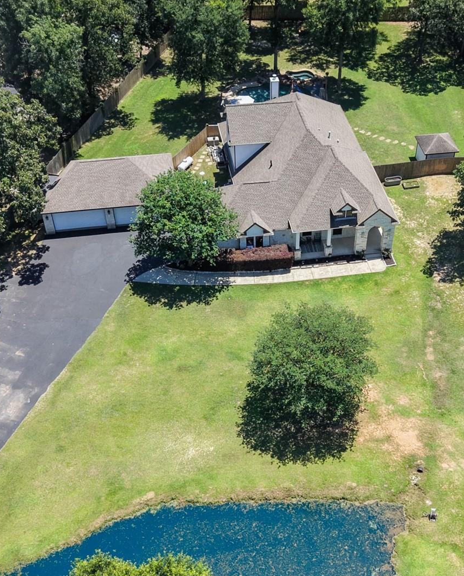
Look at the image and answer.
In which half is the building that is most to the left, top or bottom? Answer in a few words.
top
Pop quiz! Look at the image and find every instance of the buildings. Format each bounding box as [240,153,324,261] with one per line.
[42,153,176,233]
[413,130,460,167]
[203,70,403,259]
